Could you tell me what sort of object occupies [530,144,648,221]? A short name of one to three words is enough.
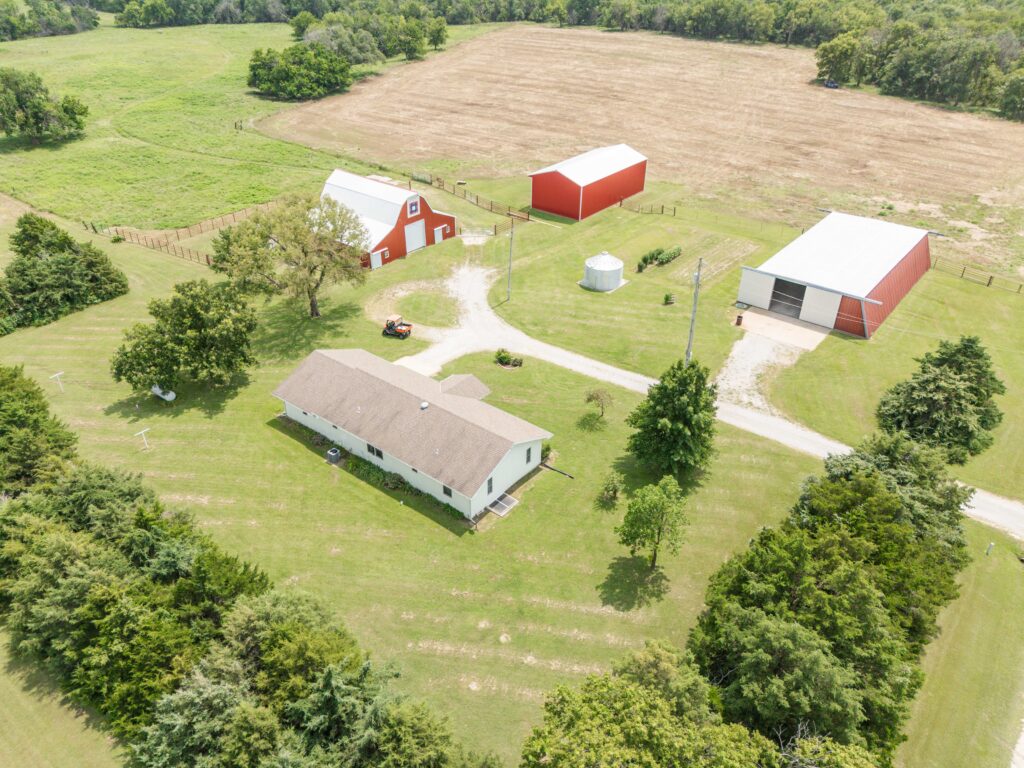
shed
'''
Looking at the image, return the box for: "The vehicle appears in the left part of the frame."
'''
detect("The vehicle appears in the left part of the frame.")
[381,312,412,339]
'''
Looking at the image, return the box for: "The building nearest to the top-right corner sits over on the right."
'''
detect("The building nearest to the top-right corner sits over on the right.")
[736,208,943,338]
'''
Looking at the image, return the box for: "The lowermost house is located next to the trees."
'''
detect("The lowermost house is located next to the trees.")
[271,349,553,522]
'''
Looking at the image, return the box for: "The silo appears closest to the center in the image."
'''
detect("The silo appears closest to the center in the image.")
[576,251,631,294]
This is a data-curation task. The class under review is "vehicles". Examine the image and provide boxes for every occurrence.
[825,76,839,87]
[381,312,412,339]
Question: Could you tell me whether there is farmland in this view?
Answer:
Yes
